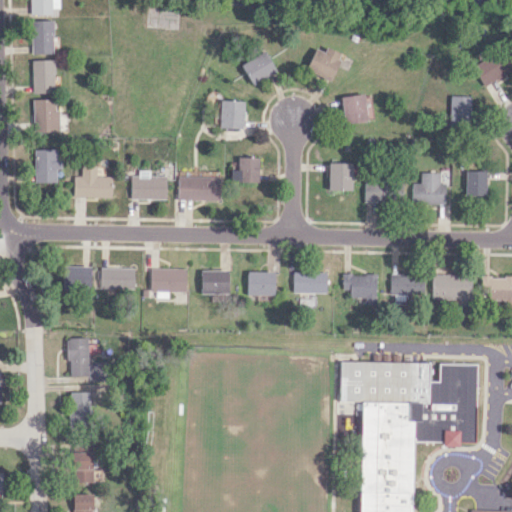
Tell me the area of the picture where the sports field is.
bottom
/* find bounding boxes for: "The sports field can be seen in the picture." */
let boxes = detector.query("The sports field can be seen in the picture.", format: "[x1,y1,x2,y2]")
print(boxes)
[182,352,332,512]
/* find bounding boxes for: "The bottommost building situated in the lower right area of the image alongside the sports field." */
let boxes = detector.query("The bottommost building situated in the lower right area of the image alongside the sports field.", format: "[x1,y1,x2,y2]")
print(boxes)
[341,362,479,512]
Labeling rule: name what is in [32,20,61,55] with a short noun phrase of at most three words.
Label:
house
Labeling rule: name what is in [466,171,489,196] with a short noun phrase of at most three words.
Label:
house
